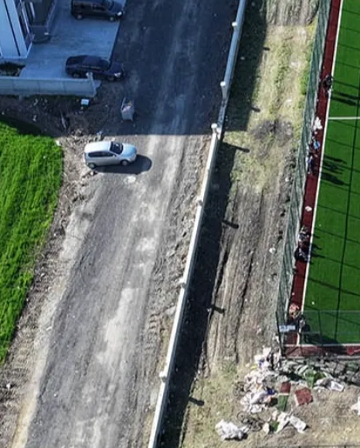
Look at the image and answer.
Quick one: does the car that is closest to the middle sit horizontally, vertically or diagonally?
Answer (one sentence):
In this picture, the car that is closest to the middle lies horizontally.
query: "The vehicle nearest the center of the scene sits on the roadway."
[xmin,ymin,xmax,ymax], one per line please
[83,136,138,165]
